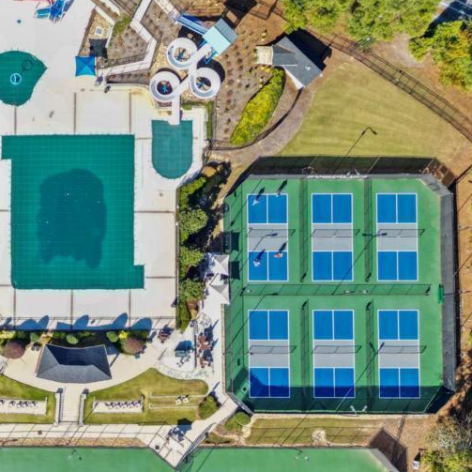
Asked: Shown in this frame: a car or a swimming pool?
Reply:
swimming pool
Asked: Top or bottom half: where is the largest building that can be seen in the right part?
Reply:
top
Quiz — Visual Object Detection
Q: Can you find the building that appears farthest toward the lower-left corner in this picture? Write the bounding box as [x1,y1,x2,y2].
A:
[36,344,111,384]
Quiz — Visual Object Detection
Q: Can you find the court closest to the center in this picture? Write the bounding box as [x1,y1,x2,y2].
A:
[248,194,292,282]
